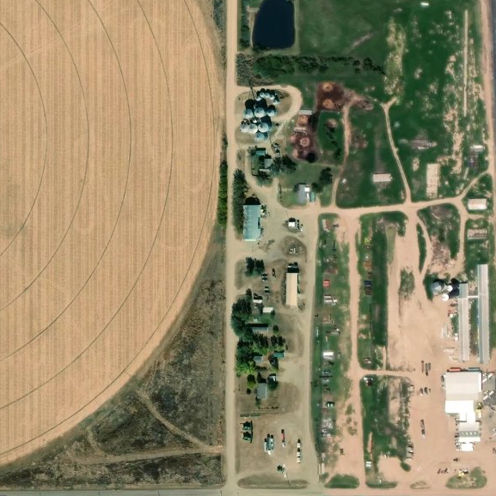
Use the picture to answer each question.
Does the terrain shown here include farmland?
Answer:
Yes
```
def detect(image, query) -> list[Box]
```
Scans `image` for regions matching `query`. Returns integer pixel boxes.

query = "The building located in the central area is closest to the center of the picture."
[243,205,261,240]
